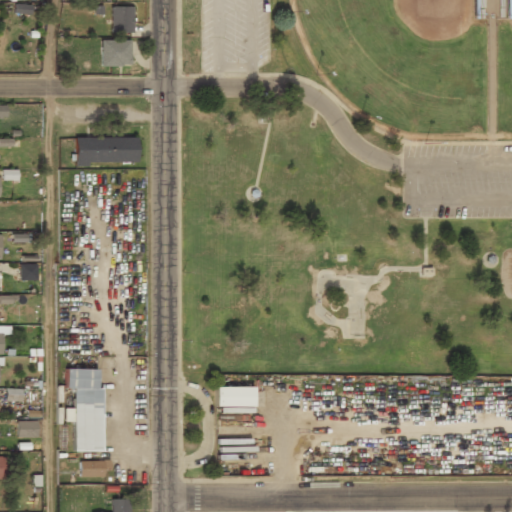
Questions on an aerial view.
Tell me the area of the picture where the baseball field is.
top right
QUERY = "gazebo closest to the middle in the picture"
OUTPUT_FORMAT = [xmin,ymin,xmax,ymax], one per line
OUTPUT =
[246,186,262,202]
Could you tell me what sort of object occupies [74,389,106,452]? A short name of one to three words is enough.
building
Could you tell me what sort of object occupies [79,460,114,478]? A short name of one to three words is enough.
building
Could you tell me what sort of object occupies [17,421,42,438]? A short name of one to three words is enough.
house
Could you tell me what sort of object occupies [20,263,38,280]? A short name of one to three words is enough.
house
